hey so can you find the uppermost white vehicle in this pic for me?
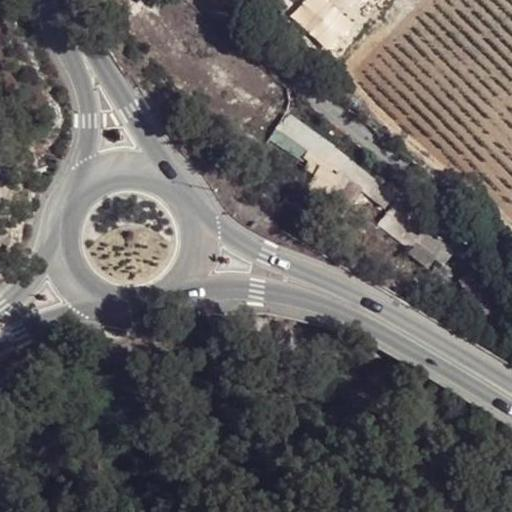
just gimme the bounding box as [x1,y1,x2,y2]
[268,256,291,271]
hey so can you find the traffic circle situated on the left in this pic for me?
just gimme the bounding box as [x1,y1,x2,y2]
[44,152,218,326]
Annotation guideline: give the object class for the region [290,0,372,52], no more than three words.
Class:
building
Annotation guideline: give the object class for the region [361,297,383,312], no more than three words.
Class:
car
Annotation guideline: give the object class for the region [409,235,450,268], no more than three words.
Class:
building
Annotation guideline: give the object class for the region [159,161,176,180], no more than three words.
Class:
car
